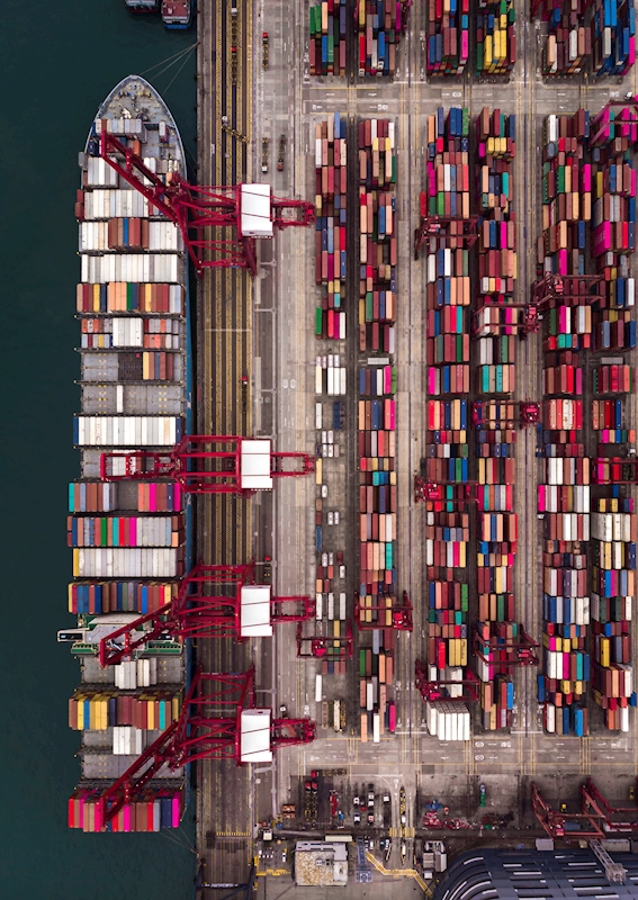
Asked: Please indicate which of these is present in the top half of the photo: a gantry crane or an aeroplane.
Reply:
gantry crane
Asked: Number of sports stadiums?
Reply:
none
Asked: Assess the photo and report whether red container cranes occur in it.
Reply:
Yes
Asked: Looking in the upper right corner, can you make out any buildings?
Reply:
No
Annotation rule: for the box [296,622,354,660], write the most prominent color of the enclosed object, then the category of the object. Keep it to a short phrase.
red crane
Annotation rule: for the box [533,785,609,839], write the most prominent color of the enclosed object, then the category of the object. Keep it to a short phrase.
red crane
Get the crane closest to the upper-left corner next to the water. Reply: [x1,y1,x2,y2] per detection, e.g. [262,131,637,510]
[99,129,316,279]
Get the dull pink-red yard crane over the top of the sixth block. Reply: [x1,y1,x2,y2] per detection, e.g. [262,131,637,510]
[591,98,638,145]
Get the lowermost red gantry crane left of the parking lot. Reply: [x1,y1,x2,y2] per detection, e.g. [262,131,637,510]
[99,664,316,832]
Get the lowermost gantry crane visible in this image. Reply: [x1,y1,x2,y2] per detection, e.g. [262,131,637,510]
[188,854,259,900]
